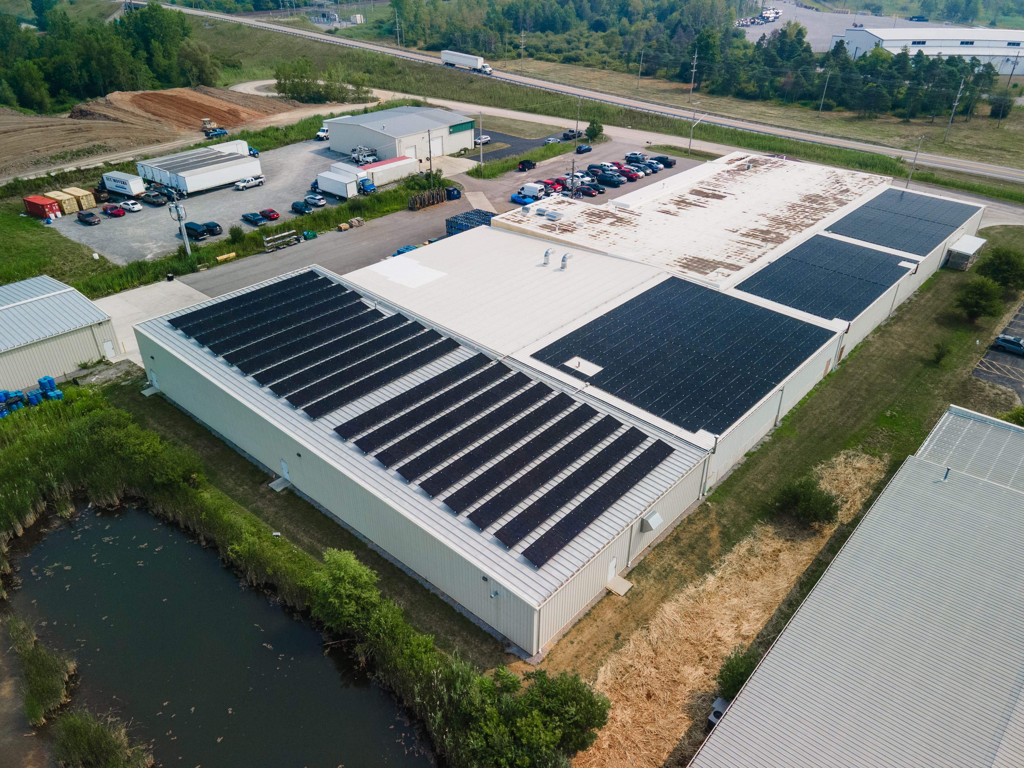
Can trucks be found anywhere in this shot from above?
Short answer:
Yes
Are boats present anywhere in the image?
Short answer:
No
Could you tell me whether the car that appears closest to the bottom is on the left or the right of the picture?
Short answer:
right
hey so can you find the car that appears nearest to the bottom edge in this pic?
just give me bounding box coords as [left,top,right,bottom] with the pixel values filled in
[989,332,1024,353]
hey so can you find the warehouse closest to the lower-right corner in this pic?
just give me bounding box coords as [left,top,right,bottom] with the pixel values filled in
[683,395,1024,768]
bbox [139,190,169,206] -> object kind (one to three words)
vehicle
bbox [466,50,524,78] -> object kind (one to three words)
truck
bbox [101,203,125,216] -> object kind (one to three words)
vehicle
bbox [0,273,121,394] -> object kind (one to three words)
shed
